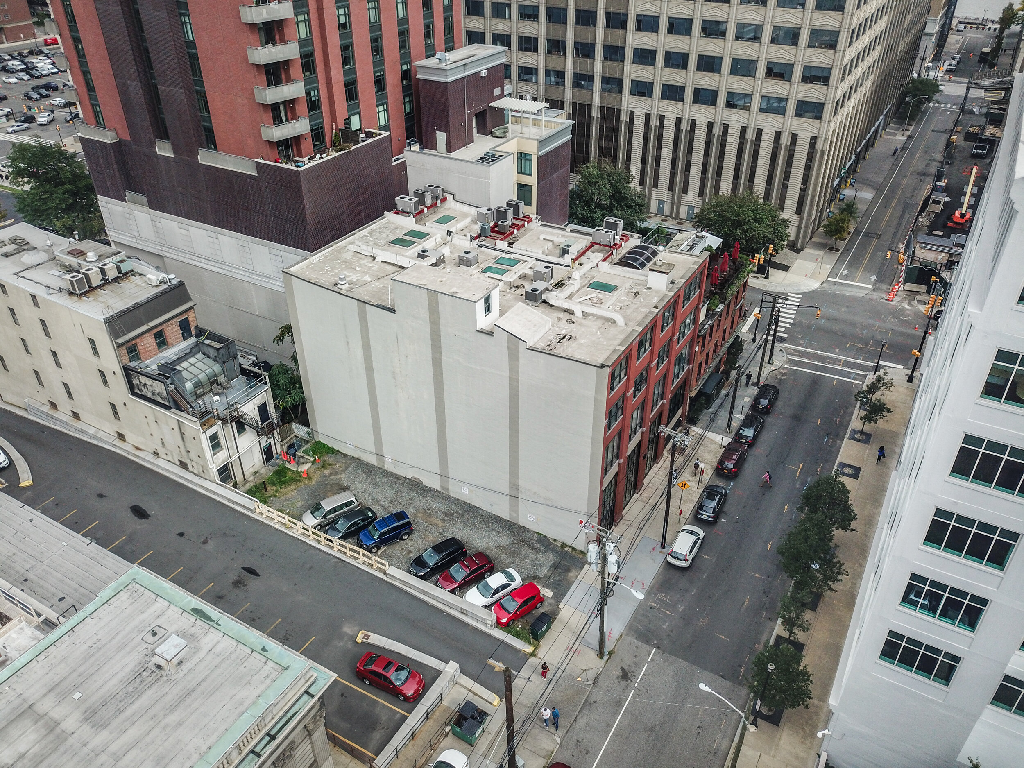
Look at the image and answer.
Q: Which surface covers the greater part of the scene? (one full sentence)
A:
For the most part, this view shows buildings.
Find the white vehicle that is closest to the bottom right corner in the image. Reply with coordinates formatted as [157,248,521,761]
[666,521,708,567]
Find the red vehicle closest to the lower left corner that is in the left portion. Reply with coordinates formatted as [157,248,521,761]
[354,648,427,700]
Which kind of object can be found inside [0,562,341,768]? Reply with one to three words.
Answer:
building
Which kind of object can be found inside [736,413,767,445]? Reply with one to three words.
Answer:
car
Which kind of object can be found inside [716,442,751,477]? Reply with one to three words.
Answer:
car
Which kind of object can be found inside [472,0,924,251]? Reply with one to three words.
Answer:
building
